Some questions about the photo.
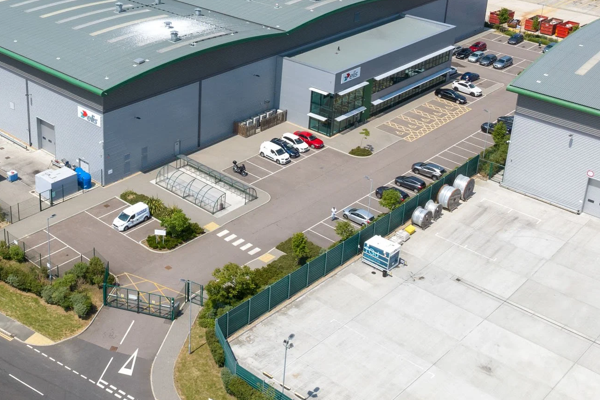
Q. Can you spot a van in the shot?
Yes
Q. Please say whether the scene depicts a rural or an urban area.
urban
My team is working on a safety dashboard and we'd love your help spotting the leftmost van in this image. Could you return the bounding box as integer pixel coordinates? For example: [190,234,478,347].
[113,199,149,230]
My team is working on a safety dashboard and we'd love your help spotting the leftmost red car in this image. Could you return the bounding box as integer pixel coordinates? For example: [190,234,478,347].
[294,131,325,150]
